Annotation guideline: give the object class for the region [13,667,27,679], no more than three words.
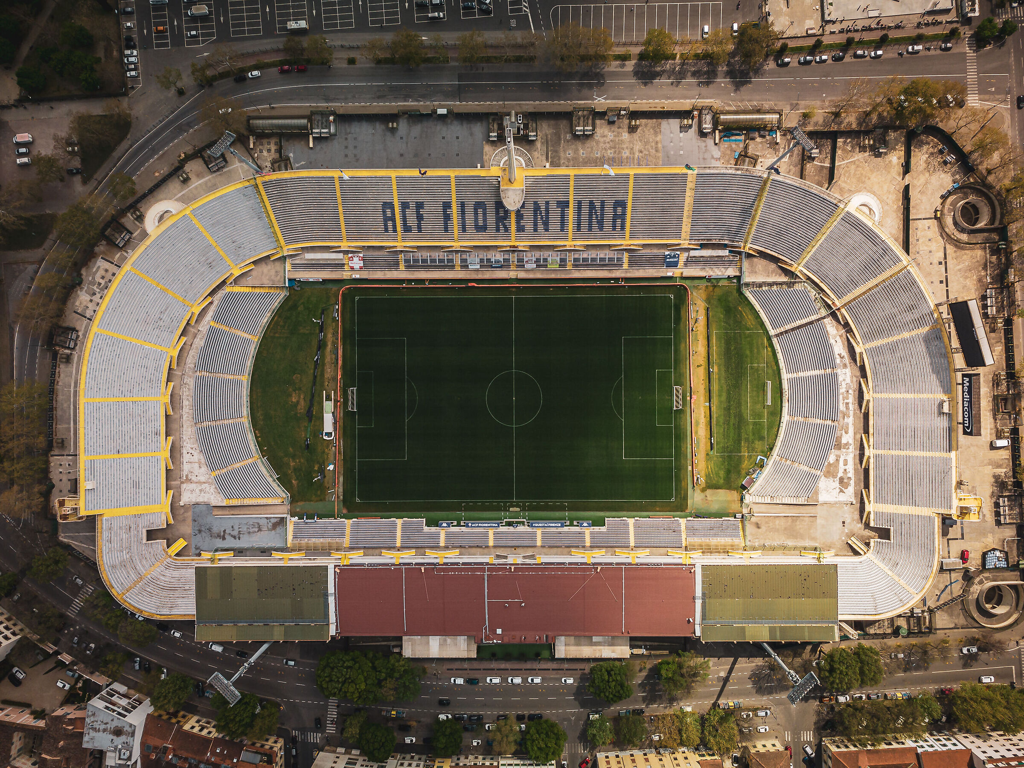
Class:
vehicle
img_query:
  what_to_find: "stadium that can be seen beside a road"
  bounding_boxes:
[54,146,984,659]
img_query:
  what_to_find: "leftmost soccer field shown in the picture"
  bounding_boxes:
[341,286,688,517]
